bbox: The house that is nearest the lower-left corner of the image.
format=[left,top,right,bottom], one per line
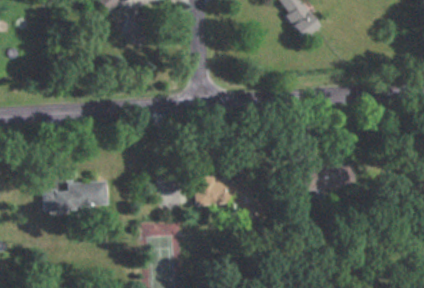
[43,180,110,212]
